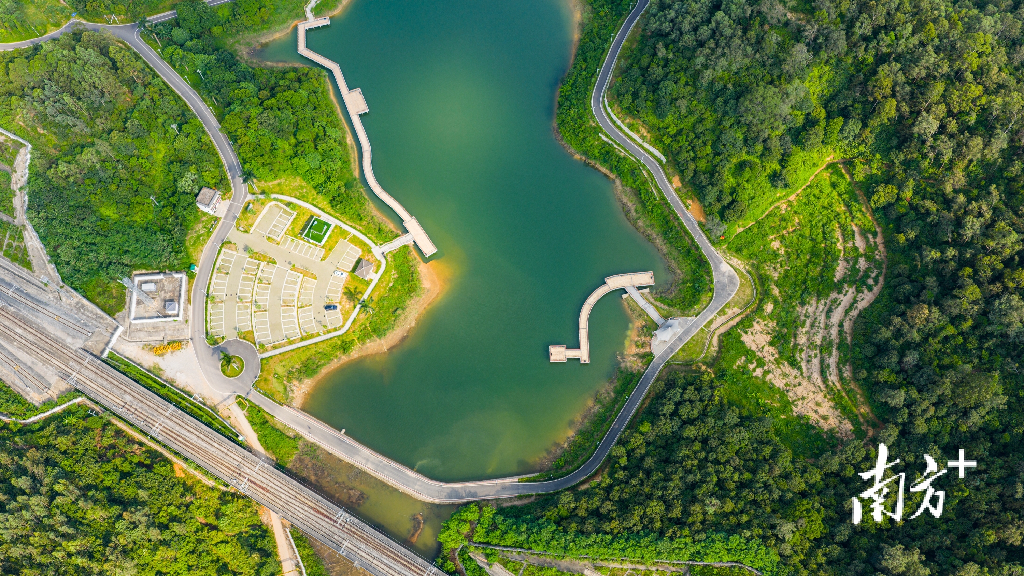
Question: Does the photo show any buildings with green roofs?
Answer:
Yes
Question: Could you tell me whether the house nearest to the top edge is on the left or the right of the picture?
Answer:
left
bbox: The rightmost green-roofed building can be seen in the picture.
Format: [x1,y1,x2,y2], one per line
[303,216,334,249]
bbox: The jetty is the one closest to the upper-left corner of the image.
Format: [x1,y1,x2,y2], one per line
[297,15,438,260]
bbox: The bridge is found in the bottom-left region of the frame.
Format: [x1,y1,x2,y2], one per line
[64,344,448,576]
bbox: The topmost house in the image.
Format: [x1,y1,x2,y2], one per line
[196,187,225,215]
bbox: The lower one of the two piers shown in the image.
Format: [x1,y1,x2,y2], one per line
[549,270,655,365]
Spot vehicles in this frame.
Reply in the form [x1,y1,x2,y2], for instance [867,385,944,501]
[334,270,346,277]
[324,304,337,310]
